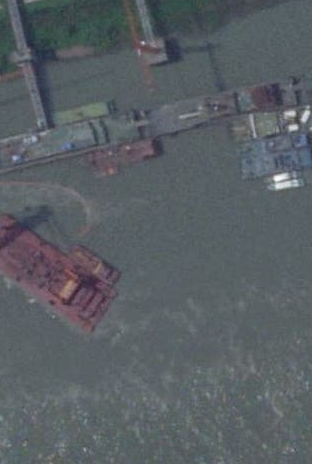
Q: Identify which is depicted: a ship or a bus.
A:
ship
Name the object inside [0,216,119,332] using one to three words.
ship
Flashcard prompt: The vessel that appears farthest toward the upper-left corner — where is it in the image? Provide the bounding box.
[54,101,114,126]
